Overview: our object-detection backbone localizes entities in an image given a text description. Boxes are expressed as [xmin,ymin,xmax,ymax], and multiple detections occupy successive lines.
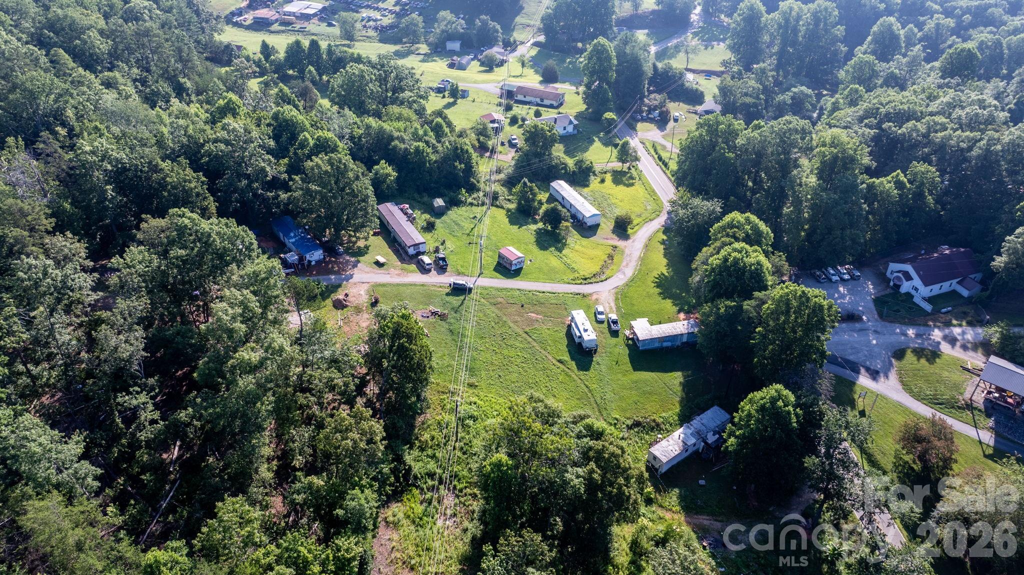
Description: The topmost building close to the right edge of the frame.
[883,248,997,298]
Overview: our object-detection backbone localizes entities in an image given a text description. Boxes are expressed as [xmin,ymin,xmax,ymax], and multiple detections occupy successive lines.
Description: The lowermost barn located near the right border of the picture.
[971,353,1024,411]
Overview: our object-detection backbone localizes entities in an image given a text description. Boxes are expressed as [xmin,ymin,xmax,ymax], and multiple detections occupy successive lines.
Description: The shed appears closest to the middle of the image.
[497,244,525,268]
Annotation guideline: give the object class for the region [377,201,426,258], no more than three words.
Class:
house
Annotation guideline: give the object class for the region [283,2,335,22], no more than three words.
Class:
barn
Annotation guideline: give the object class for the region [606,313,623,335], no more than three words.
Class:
vehicle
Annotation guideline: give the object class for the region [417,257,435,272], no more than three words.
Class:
car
